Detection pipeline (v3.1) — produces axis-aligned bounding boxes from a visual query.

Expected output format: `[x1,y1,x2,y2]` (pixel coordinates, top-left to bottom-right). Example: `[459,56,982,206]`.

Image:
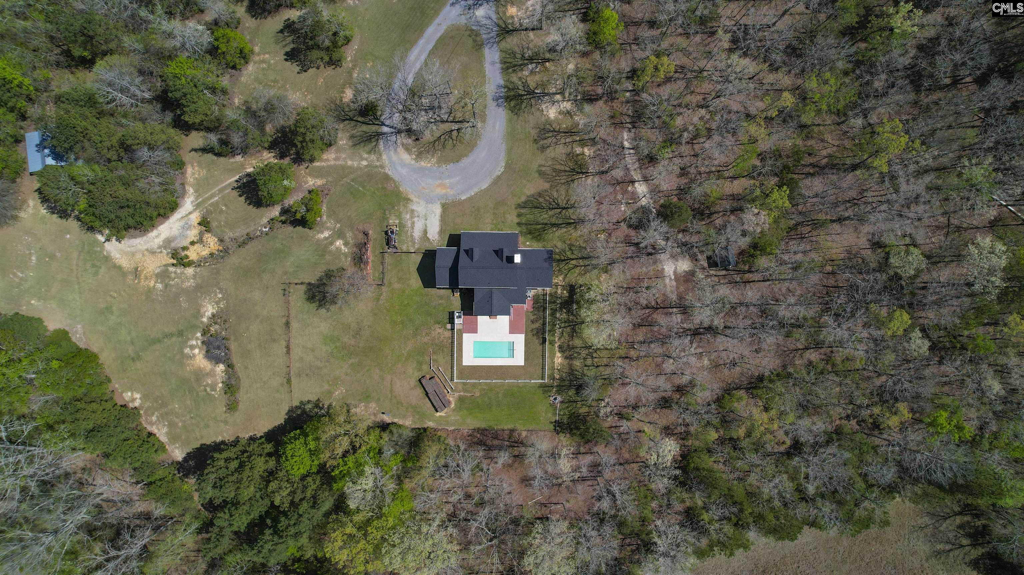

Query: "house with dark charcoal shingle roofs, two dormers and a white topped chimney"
[435,231,553,319]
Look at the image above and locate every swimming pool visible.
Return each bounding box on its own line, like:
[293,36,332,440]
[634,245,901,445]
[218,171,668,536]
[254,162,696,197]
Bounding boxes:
[473,341,514,358]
